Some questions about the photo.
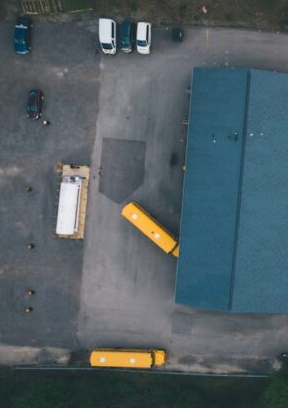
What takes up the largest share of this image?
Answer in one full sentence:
For the most part, this view shows paved ground.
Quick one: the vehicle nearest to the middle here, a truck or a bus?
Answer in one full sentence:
I'd say the vehicle nearest to the middle is a bus.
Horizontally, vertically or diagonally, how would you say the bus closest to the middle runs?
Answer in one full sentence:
The bus closest to the middle has been laid out diagonally relative to the frame.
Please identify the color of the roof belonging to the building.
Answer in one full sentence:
The roof over the building appears blue.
